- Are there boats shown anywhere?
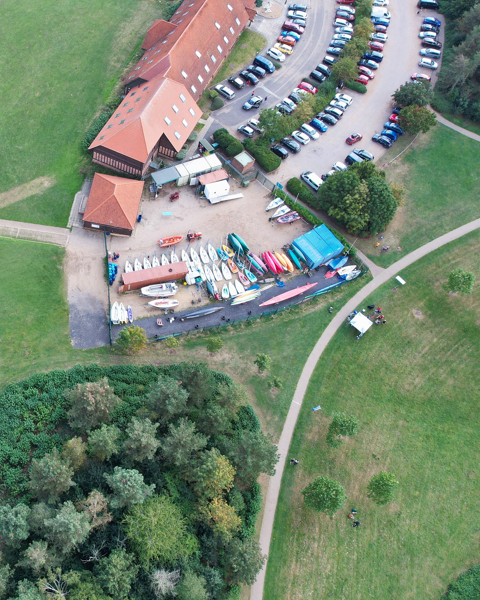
Yes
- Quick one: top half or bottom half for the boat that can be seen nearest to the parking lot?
top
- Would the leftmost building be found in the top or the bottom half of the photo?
top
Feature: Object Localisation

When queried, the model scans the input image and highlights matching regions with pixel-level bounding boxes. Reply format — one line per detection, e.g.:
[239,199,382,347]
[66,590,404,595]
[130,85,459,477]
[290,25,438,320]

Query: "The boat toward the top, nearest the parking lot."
[264,183,285,211]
